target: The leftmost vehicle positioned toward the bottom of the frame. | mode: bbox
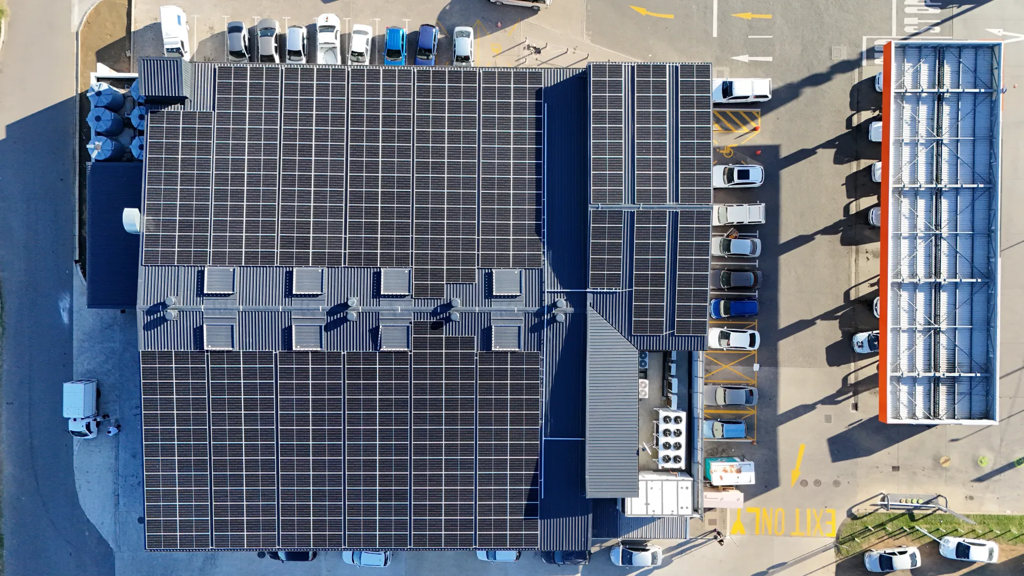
[63,378,107,439]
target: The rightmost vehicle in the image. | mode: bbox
[936,533,999,564]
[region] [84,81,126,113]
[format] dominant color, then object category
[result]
blue water tank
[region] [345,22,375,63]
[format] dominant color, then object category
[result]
white car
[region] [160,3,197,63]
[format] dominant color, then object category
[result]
white truck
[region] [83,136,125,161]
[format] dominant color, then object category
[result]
blue water tank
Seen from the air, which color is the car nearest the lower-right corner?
white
